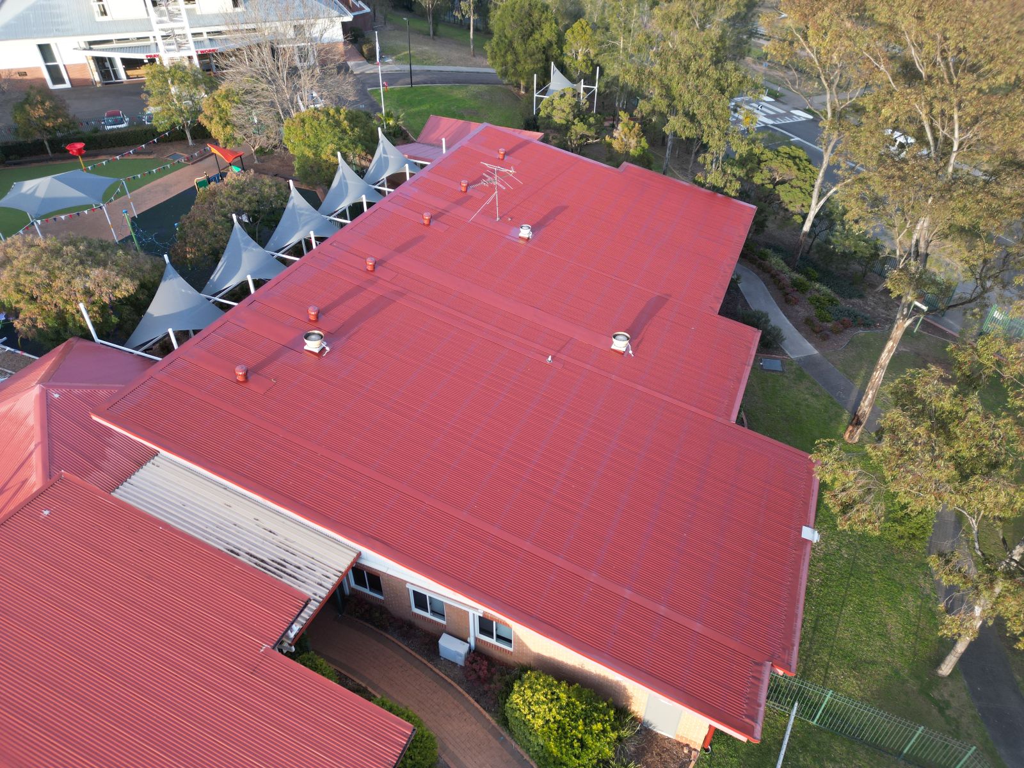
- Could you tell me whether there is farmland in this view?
No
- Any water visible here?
No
